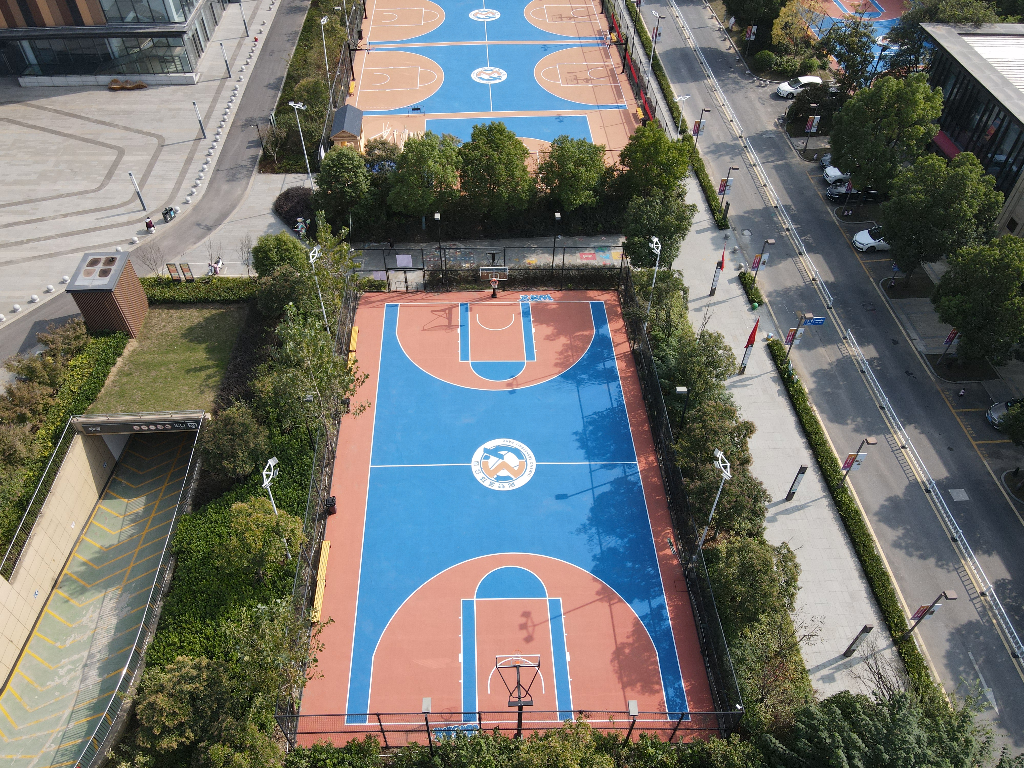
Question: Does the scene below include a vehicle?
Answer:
Yes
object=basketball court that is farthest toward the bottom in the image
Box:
[294,289,722,749]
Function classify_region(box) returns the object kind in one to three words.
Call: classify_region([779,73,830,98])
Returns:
car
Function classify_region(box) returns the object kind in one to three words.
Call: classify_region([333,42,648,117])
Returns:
basketball court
